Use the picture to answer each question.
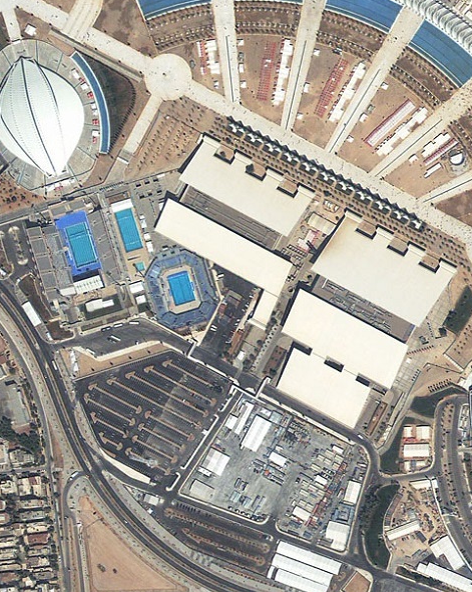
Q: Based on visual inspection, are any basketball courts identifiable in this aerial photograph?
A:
No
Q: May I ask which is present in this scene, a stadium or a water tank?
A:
stadium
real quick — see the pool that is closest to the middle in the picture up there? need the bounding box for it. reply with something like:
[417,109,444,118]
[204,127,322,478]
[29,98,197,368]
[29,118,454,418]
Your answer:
[110,208,148,286]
